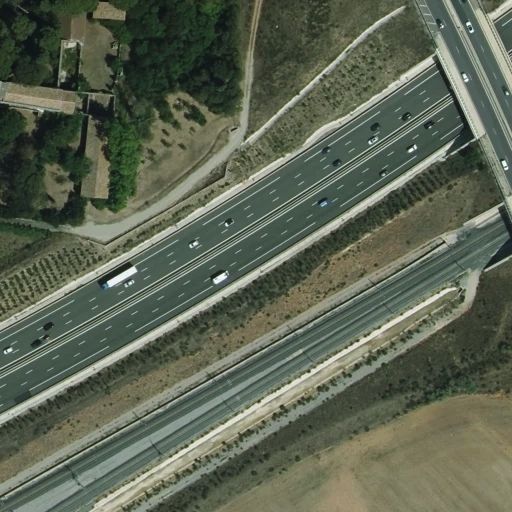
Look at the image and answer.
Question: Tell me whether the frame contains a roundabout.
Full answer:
No, the scene contains no roundabout.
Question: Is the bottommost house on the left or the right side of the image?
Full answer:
The bottommost house is on the left side of the image.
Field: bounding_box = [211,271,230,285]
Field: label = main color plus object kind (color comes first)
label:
white vehicle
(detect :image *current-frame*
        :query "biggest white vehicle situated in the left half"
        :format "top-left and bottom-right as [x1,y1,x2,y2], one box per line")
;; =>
[100,266,136,291]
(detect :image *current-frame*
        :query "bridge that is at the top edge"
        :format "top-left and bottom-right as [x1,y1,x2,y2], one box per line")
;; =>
[436,17,512,140]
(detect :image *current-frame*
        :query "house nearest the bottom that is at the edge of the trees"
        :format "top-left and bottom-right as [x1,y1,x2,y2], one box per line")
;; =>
[81,114,115,198]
